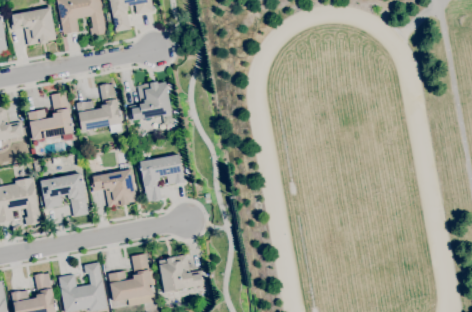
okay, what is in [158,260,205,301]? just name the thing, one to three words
house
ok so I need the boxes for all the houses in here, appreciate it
[158,260,205,301]
[110,0,154,30]
[11,6,54,44]
[0,176,40,226]
[40,174,86,218]
[140,155,184,202]
[90,170,136,208]
[76,82,122,134]
[56,0,104,36]
[27,93,74,154]
[10,272,56,312]
[0,280,8,312]
[106,253,158,312]
[58,262,106,312]
[132,80,174,130]
[0,106,24,142]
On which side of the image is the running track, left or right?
right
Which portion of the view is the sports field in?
right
